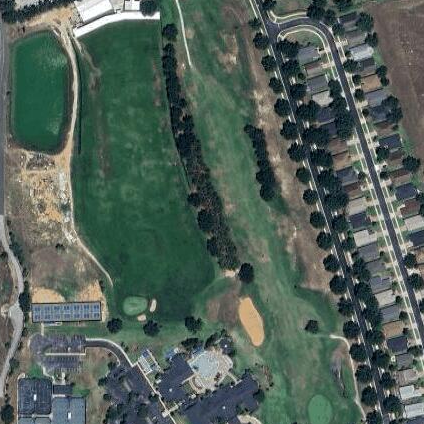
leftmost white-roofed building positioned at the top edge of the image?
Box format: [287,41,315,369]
[75,0,112,21]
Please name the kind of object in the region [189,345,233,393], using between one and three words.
swimming pool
